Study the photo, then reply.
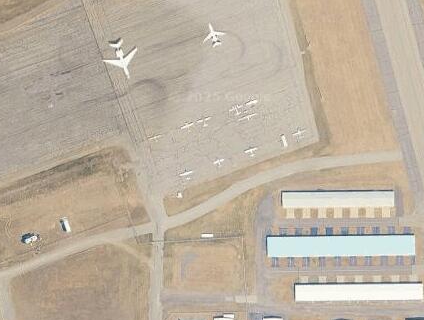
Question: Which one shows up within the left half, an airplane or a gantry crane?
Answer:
airplane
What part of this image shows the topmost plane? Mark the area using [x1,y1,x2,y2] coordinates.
[203,24,226,45]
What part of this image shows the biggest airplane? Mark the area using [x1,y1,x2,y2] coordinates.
[104,39,137,76]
